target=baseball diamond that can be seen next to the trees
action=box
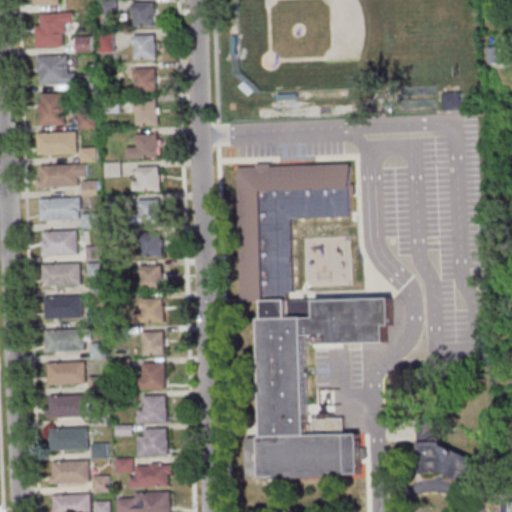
[260,0,478,90]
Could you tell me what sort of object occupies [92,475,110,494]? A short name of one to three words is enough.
building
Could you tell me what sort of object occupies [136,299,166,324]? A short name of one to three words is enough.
house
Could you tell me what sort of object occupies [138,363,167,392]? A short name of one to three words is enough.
house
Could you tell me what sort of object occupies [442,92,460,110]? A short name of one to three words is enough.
shed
